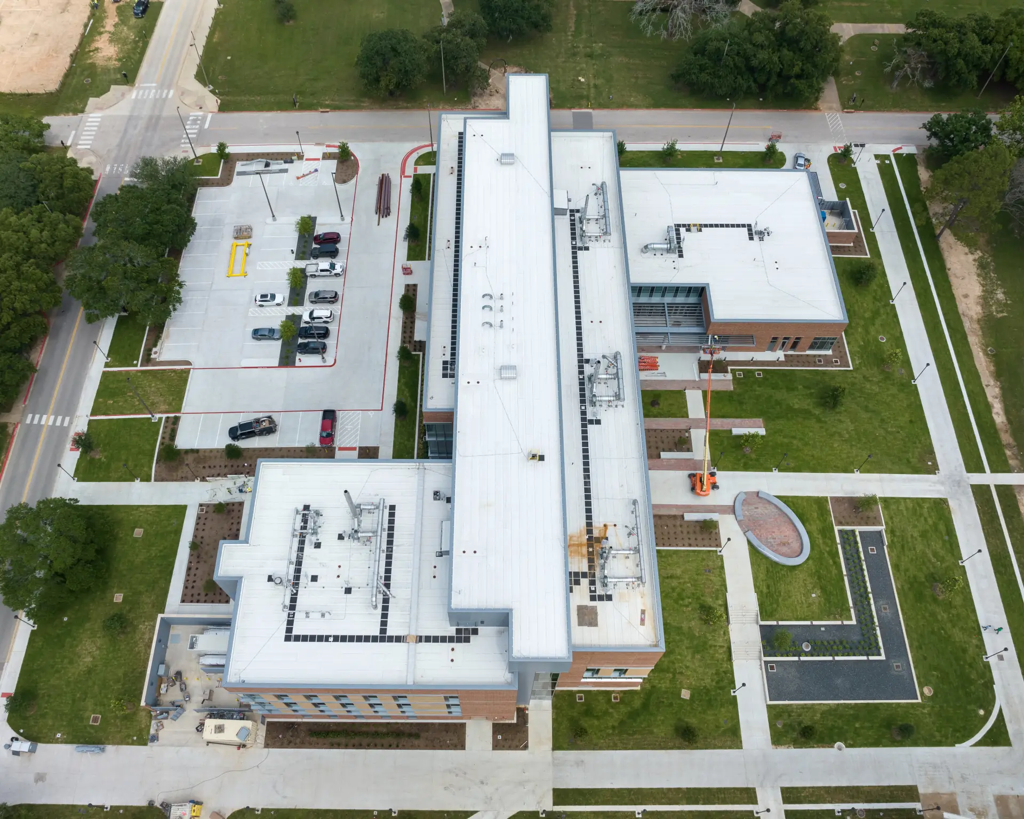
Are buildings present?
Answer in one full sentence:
Yes, there's a building down there.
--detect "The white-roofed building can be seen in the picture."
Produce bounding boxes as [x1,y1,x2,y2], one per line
[214,74,849,719]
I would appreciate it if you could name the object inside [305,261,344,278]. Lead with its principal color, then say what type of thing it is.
white vehicle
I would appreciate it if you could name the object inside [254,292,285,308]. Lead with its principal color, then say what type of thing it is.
white car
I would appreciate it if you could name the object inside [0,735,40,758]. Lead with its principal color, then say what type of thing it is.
white trailer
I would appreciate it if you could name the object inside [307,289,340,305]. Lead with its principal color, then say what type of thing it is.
gray car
